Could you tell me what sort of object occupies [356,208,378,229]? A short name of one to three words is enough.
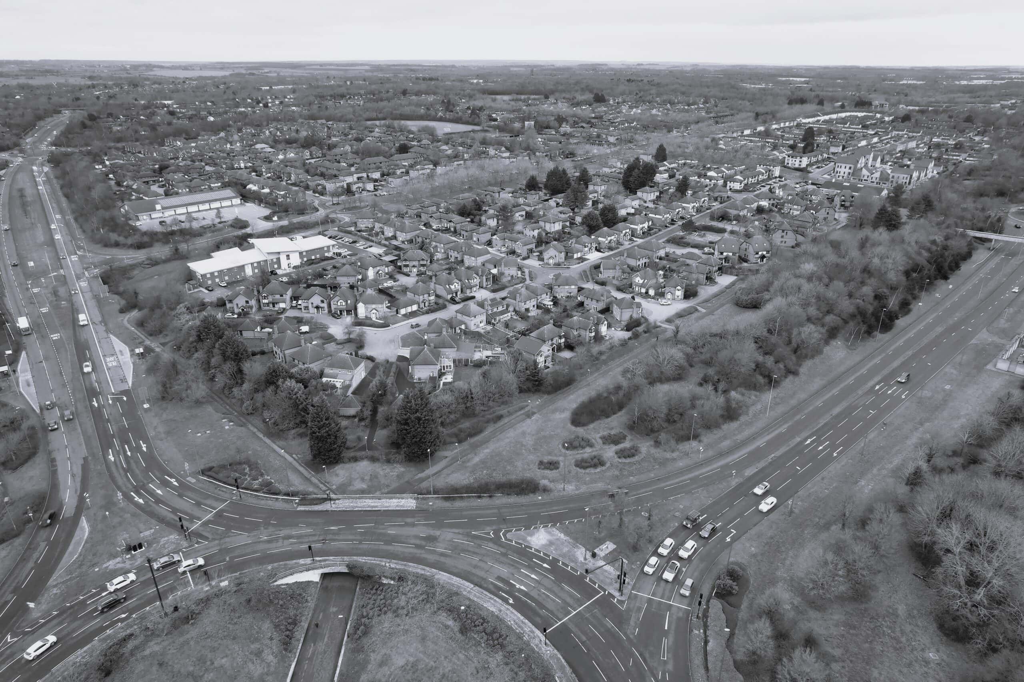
house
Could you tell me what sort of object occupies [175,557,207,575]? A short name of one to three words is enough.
car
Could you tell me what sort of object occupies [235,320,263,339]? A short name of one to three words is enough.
building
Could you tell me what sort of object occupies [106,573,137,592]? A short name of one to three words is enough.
car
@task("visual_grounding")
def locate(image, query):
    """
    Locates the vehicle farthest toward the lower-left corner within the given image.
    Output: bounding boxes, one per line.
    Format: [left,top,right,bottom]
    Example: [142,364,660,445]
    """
[20,634,60,661]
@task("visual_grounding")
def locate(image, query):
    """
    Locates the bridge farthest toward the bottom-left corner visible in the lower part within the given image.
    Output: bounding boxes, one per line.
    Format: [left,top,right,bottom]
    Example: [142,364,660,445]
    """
[271,570,399,591]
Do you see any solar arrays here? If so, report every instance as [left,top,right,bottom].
[163,192,234,207]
